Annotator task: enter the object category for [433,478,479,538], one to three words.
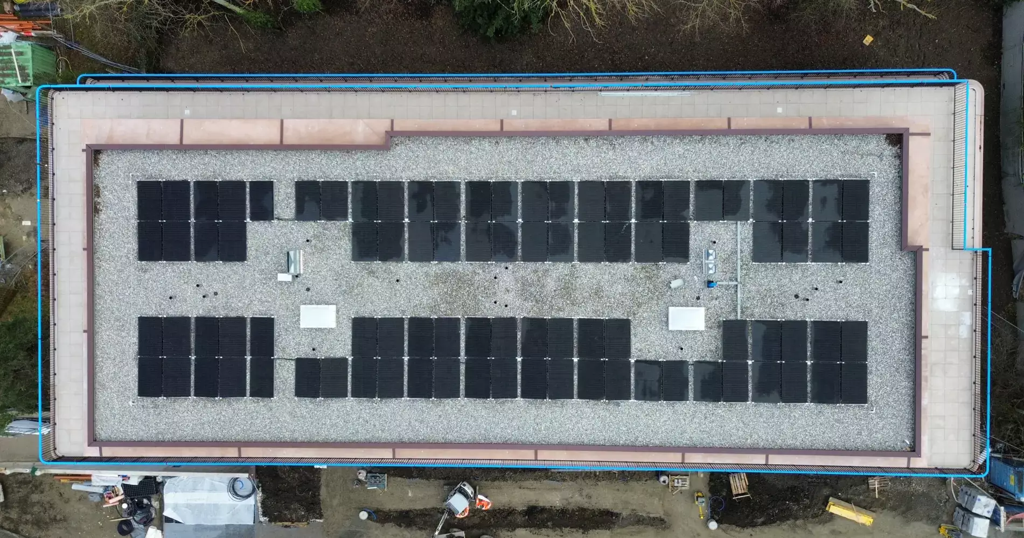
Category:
work vehicle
